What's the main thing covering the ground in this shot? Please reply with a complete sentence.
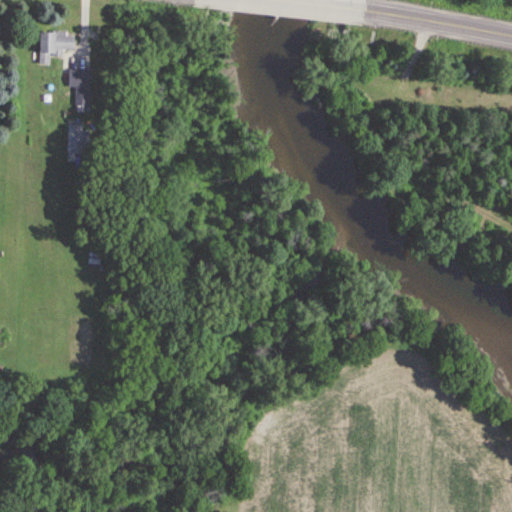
The scene is dominated by trees.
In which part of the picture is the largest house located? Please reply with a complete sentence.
Look in the top left portion of the view to spot the largest house.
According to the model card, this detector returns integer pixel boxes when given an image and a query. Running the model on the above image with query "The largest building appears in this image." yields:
[40,30,76,65]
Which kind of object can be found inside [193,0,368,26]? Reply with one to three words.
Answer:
bridge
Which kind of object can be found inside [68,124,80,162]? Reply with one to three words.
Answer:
house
